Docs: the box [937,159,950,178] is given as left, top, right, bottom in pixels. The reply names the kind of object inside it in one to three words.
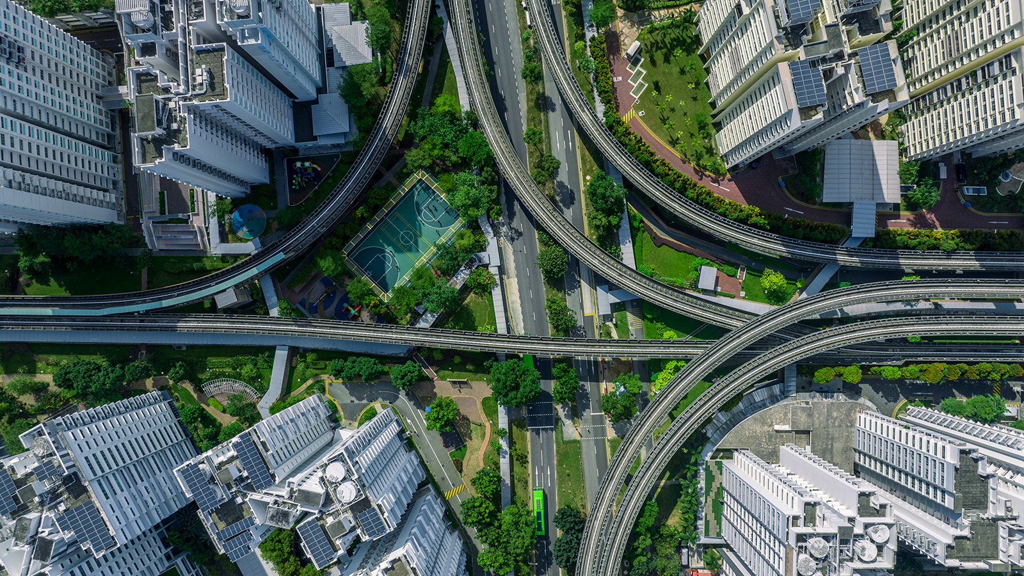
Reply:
vehicle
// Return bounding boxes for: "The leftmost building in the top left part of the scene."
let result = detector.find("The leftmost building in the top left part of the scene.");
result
[0,0,125,240]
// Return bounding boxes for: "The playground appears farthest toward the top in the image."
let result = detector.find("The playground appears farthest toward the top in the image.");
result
[286,153,341,206]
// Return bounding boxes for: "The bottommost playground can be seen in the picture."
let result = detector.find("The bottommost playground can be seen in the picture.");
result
[299,277,386,323]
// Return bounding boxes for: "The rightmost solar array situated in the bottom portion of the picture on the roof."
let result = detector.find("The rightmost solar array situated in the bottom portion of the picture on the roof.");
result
[357,507,386,537]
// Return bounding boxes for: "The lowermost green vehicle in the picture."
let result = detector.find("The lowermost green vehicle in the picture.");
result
[532,484,545,535]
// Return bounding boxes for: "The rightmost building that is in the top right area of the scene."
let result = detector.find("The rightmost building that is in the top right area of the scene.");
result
[893,0,1024,161]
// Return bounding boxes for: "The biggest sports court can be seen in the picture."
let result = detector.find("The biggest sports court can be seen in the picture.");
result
[343,170,465,296]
